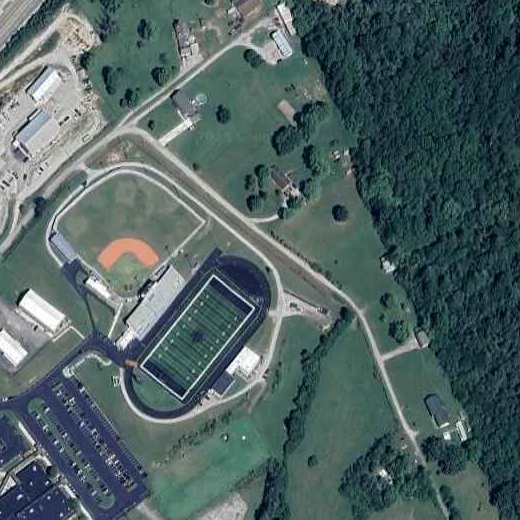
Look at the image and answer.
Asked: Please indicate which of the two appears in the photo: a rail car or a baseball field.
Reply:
baseball field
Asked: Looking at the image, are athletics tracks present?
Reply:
Yes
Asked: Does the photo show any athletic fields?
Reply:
Yes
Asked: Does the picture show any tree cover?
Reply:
Yes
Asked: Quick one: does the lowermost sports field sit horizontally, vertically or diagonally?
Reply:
diagonally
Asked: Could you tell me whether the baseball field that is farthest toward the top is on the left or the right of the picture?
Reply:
left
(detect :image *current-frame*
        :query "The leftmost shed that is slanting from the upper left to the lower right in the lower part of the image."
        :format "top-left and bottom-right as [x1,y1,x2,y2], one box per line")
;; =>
[0,329,27,368]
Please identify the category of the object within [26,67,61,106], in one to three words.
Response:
building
